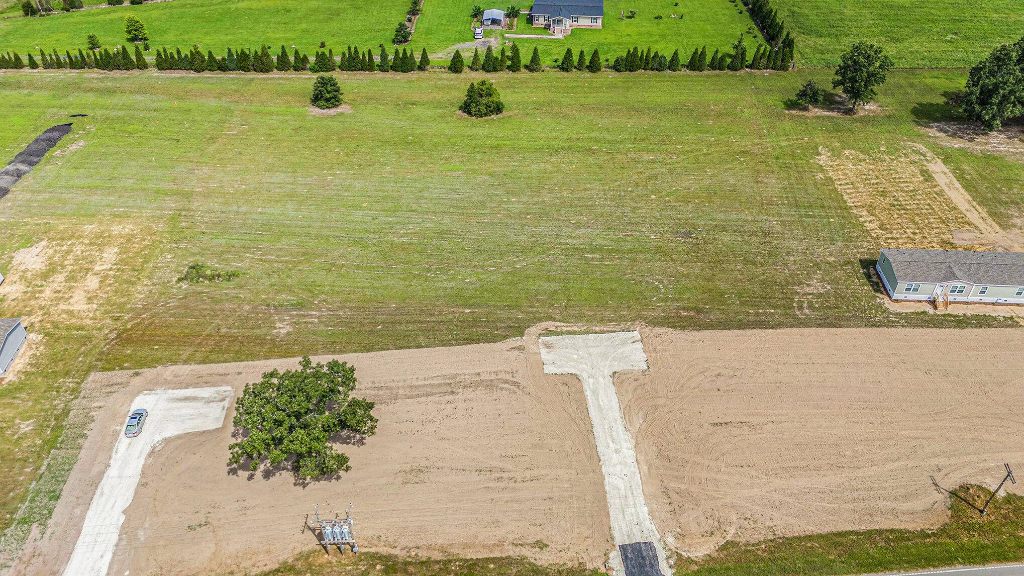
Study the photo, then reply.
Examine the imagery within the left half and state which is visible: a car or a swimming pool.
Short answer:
car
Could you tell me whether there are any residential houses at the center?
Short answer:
No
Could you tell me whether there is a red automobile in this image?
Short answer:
No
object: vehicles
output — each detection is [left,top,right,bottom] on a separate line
[474,29,482,37]
[485,19,492,26]
[123,405,150,437]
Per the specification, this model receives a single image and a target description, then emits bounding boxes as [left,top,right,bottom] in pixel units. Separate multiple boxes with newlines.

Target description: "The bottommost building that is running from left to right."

[874,249,1024,304]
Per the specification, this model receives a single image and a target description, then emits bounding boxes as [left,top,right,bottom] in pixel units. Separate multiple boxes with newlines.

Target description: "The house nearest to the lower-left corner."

[0,315,30,375]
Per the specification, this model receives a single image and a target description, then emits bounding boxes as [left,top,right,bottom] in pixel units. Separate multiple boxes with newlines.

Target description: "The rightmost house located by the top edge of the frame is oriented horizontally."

[532,1,604,32]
